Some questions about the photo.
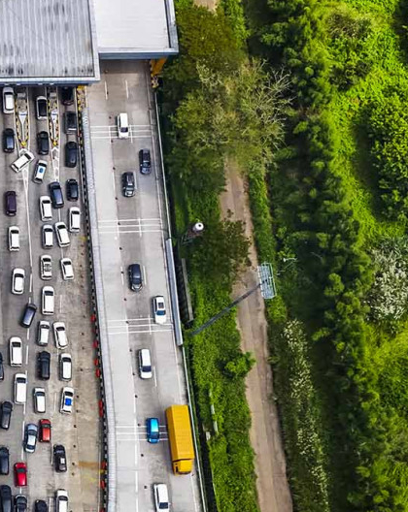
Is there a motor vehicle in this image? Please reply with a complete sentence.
Yes, a motor vehicle can be made out from above.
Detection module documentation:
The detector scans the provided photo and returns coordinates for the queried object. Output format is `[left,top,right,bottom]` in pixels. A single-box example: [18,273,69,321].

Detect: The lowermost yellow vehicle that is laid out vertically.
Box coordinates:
[162,404,192,475]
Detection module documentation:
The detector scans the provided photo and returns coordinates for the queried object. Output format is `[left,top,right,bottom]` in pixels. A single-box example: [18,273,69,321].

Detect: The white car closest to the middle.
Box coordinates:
[151,295,167,324]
